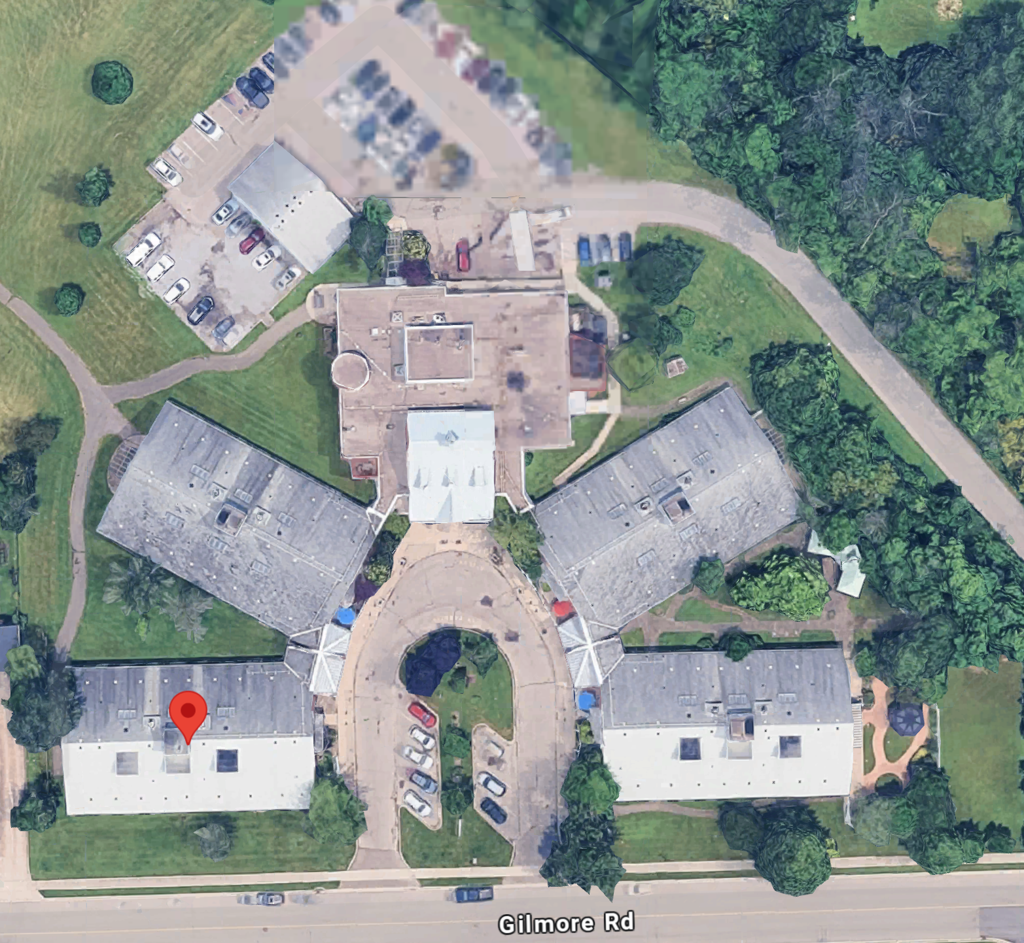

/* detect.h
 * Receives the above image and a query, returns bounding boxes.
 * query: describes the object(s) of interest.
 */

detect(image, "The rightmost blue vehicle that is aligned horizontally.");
[454,886,493,903]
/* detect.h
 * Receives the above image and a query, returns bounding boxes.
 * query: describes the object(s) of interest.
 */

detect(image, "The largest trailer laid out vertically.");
[510,209,535,274]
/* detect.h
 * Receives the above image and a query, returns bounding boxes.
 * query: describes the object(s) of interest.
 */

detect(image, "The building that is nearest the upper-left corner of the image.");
[229,140,356,274]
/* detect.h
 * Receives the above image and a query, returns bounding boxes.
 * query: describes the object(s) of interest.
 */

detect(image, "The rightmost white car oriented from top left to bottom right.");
[477,770,507,799]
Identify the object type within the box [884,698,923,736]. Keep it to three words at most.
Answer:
gazebo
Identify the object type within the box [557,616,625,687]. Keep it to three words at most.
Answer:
building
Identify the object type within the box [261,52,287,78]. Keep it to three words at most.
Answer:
car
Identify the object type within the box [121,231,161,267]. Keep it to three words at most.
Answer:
van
